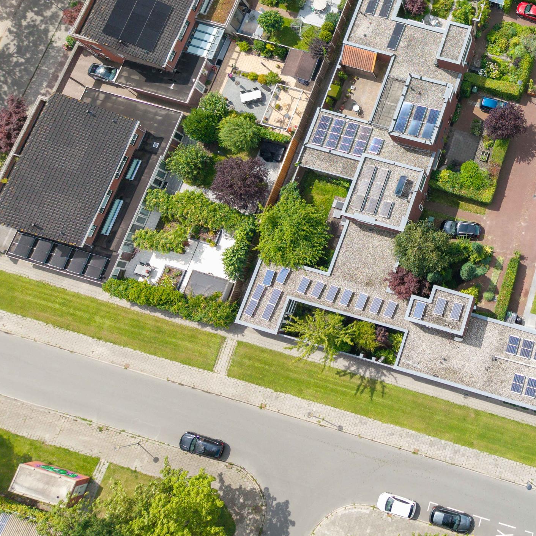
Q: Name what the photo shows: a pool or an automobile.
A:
automobile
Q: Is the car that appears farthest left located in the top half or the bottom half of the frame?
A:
top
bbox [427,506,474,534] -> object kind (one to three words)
car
